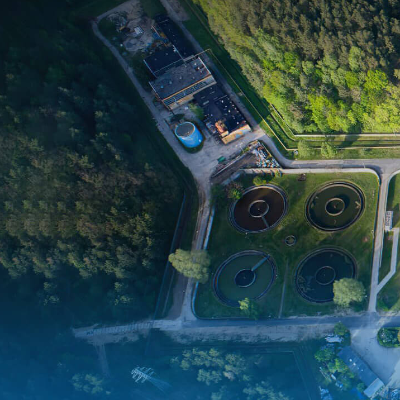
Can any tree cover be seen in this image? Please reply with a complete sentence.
Yes, some tree cover is visible.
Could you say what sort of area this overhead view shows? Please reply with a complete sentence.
This image shows an industrial area.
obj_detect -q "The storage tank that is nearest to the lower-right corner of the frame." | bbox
[294,247,356,305]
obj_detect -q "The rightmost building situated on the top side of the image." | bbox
[194,84,252,143]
